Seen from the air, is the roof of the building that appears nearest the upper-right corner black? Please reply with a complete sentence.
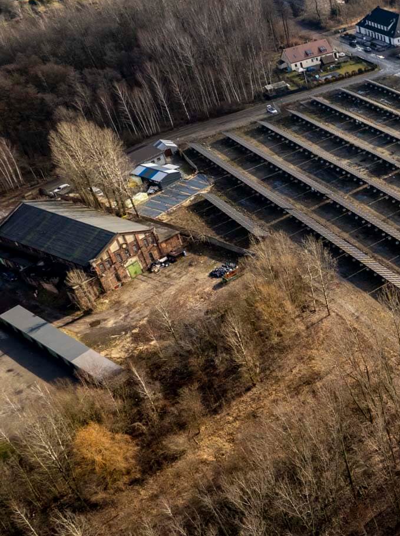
Yes, the roof of the building that appears nearest the upper-right corner is black.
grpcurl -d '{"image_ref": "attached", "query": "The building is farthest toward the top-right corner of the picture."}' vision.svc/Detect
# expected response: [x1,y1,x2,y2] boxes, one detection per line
[352,4,400,48]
